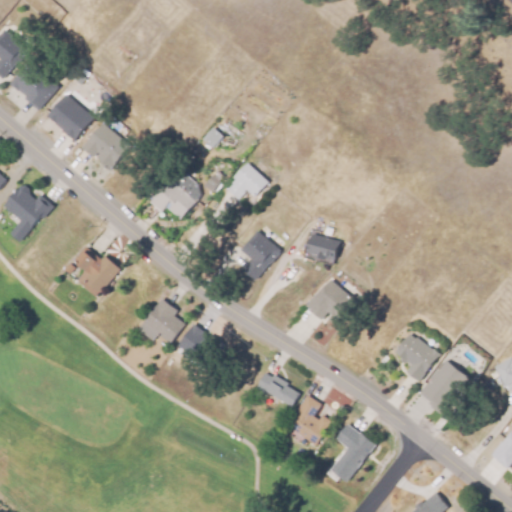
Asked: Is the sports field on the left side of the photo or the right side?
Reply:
left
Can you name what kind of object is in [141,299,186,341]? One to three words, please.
house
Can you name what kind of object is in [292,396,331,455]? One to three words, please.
house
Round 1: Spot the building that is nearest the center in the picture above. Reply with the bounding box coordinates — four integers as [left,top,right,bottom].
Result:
[244,231,283,279]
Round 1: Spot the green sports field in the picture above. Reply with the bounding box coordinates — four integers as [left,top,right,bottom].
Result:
[0,342,134,447]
